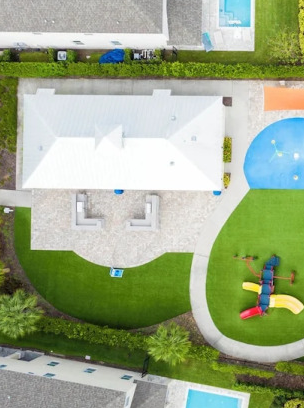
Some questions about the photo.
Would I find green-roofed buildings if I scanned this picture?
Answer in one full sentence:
No, there isn't any green-roofed building down there.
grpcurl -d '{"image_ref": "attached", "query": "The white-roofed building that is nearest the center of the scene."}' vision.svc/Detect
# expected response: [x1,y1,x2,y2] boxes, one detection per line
[21,91,226,192]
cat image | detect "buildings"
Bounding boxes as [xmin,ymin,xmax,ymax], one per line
[0,0,206,54]
[21,91,226,192]
[0,334,170,408]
